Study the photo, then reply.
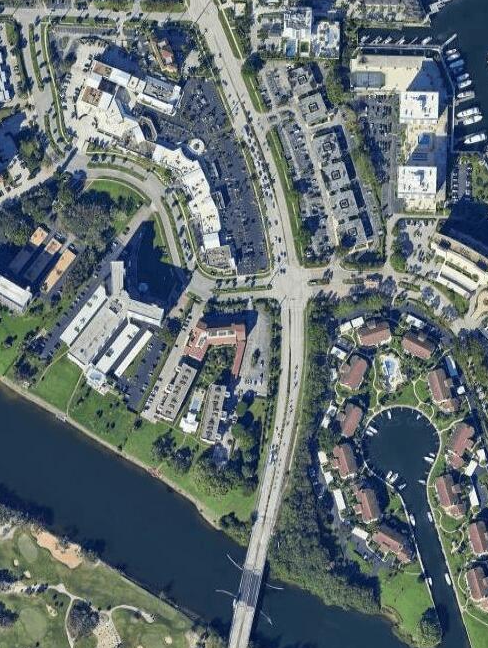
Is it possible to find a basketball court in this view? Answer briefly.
No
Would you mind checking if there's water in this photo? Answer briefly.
Yes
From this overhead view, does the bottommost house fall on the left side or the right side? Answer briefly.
right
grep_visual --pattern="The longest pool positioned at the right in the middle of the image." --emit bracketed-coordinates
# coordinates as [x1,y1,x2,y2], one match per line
[380,352,402,387]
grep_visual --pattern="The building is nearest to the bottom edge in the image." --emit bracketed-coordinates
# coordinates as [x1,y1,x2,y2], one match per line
[465,567,488,610]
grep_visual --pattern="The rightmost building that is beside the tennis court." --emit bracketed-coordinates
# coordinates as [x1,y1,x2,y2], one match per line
[400,92,438,128]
